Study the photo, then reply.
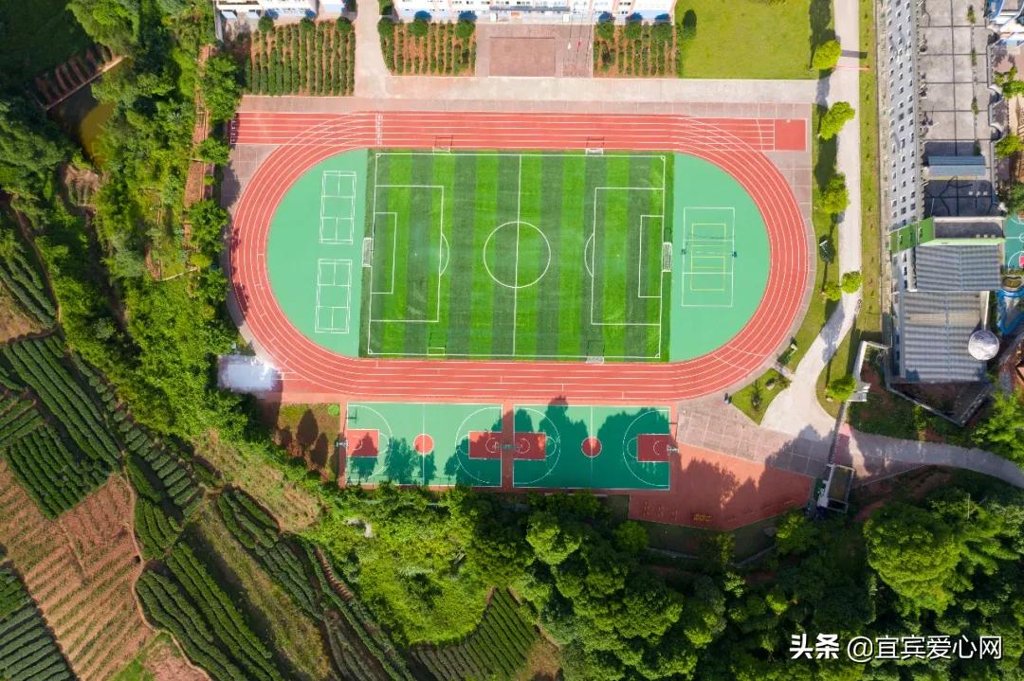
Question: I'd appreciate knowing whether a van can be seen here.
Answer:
No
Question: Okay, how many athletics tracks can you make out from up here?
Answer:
1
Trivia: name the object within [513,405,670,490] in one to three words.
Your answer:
basketball court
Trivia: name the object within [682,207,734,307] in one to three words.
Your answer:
sports court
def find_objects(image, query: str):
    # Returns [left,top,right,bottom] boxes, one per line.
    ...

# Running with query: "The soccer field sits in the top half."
[360,149,675,362]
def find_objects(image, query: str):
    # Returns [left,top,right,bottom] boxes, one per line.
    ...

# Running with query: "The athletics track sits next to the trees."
[229,109,810,401]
